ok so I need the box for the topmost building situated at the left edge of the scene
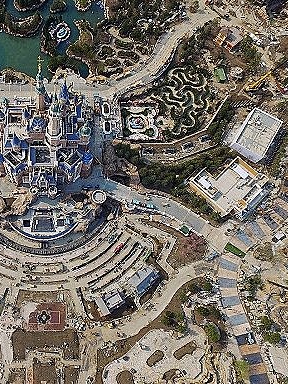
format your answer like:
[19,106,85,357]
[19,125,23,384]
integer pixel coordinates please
[0,62,95,199]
